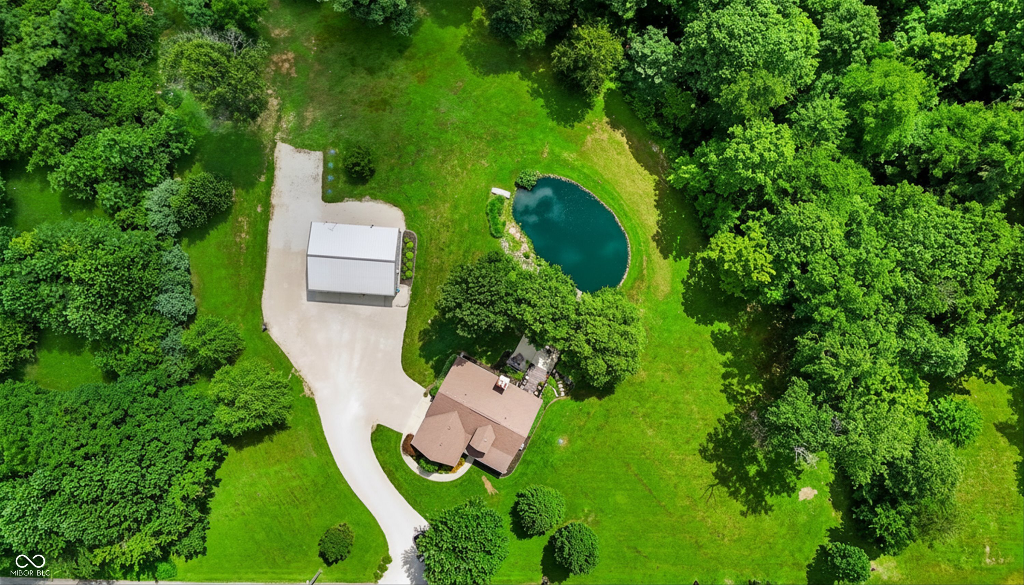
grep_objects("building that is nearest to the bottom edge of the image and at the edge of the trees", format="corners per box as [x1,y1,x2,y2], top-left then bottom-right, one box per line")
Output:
[410,356,543,473]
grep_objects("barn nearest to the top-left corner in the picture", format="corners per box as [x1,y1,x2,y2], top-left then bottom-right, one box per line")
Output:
[306,221,401,297]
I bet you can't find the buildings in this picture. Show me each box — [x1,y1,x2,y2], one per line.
[410,356,543,473]
[306,221,401,297]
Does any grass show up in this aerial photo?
Yes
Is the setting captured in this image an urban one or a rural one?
rural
